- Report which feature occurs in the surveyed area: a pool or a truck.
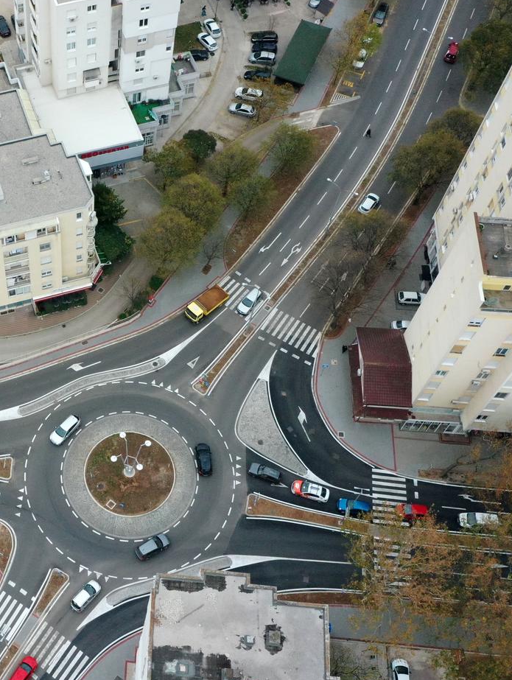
truck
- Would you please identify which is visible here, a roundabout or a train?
roundabout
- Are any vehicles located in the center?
Yes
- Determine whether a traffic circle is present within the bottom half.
Yes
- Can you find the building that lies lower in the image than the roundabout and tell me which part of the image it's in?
bottom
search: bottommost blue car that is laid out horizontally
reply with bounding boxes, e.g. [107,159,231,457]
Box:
[336,497,373,519]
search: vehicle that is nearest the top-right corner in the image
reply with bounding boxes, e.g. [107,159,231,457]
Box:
[443,41,462,63]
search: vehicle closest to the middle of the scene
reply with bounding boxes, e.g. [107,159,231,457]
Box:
[236,286,265,316]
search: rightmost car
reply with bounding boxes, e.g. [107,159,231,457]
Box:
[456,509,503,530]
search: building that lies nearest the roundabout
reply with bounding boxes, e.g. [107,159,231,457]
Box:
[136,569,341,680]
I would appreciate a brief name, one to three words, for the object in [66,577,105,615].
car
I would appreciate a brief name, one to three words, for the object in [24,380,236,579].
roundabout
